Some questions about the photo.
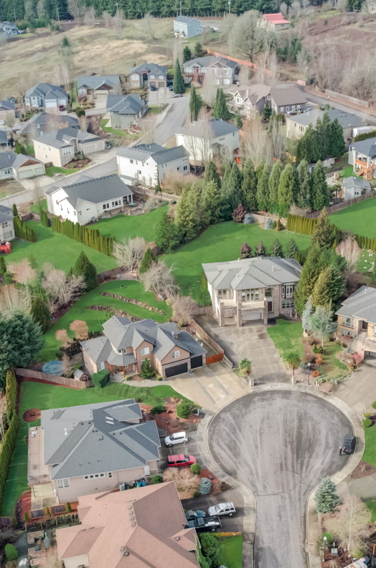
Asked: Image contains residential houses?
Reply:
Yes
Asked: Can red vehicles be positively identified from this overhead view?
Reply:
Yes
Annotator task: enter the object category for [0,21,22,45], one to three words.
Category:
house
